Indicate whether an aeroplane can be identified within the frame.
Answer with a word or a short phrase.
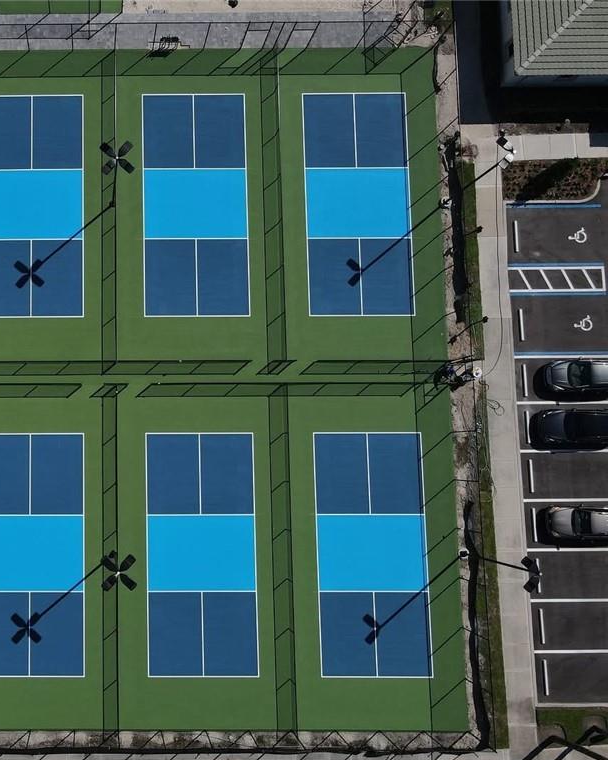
No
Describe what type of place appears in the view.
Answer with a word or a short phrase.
sports ground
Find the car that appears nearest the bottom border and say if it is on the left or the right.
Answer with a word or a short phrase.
right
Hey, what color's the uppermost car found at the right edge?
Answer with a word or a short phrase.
black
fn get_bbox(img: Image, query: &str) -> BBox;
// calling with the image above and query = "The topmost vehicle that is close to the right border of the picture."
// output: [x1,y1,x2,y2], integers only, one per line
[538,354,608,394]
